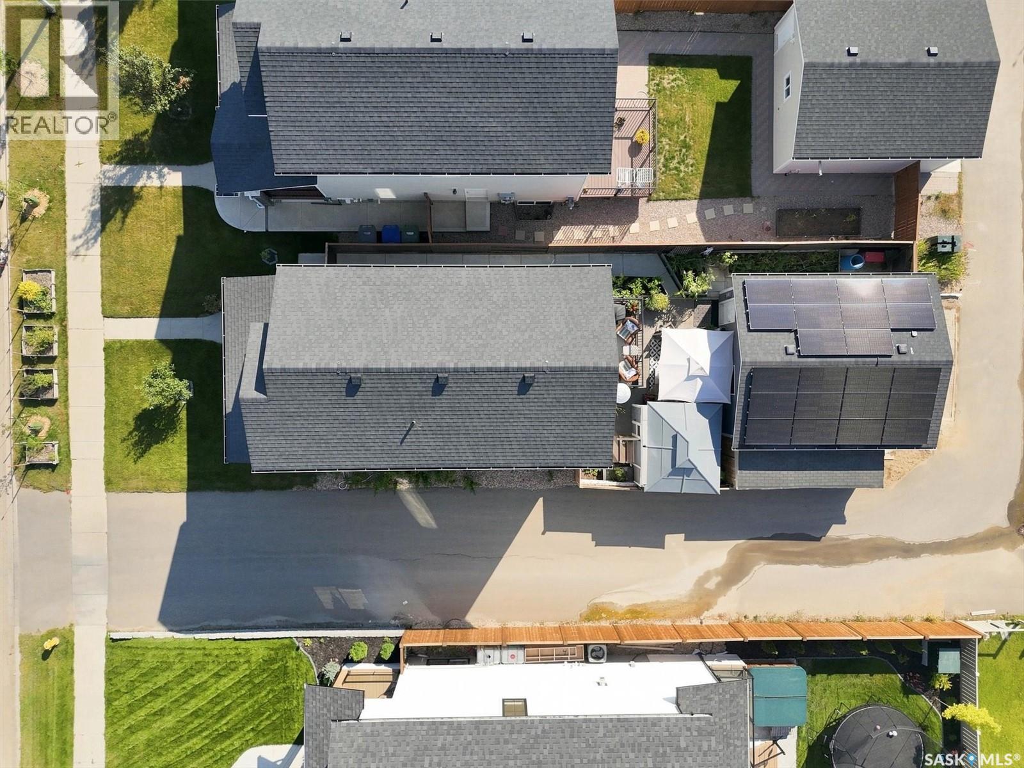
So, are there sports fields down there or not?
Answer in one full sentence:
No, there's no sports field here.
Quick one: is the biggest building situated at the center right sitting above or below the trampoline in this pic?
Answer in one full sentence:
From this view, the biggest building situated at the center right can be seen above the trampoline.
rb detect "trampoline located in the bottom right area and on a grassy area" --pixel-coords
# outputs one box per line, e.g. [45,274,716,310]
[820,694,947,768]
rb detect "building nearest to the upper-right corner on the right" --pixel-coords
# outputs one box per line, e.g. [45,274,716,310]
[772,0,1002,179]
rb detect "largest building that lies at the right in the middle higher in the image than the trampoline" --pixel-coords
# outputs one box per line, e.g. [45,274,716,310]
[715,270,957,489]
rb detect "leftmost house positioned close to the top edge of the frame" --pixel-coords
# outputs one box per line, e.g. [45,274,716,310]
[211,0,618,231]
